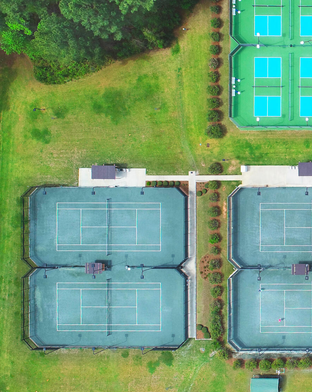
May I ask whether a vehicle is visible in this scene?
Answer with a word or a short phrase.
No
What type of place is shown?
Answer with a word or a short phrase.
sports ground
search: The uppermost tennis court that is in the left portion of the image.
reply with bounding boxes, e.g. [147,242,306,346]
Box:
[29,188,184,268]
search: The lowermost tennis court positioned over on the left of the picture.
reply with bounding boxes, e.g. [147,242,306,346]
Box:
[29,268,184,348]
